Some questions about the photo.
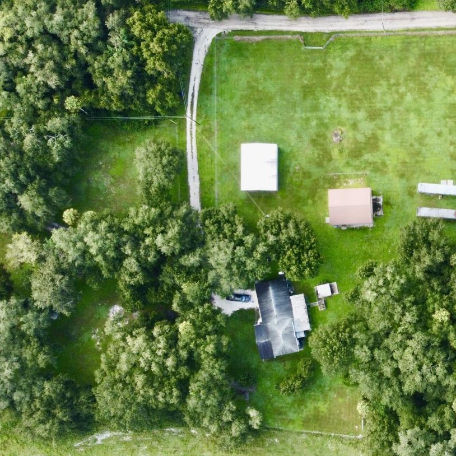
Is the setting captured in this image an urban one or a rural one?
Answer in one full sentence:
The area shown here is rural.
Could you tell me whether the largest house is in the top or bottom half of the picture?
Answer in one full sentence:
The largest house sits in the bottom half of the picture.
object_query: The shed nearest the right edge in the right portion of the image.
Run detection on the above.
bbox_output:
[329,188,376,229]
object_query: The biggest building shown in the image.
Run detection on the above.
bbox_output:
[255,278,310,360]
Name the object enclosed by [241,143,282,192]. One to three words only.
barn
